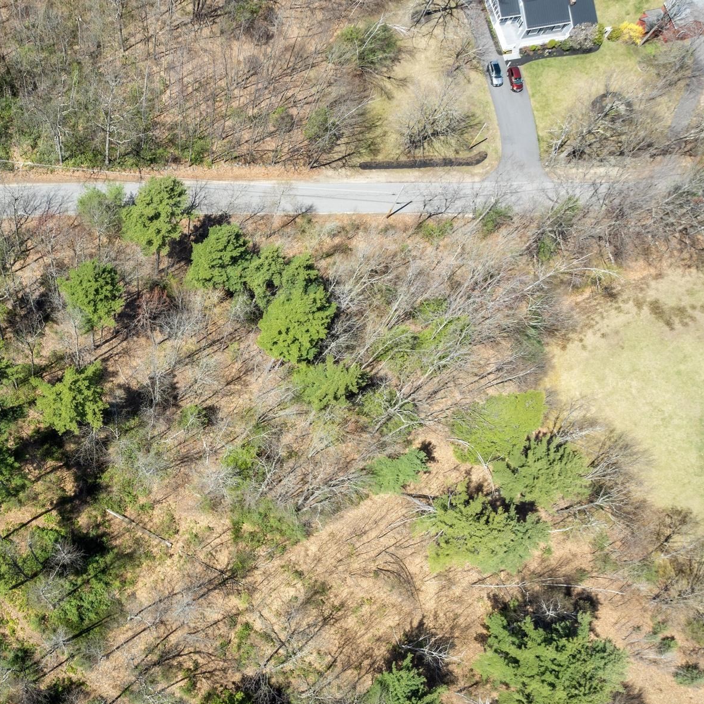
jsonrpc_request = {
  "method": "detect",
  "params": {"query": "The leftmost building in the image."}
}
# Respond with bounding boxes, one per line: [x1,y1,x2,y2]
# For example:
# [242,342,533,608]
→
[470,0,595,70]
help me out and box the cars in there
[488,59,507,86]
[509,64,527,91]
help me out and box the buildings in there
[627,0,704,52]
[470,0,595,70]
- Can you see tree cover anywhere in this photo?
Yes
